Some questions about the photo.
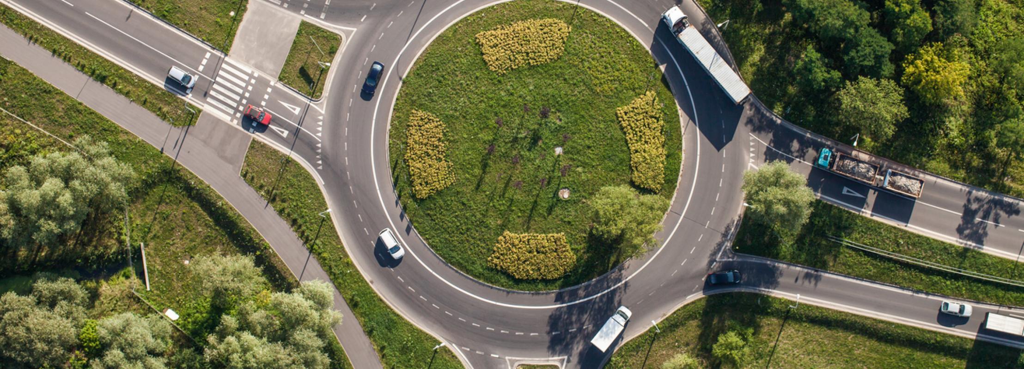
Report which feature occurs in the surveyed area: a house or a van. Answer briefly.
van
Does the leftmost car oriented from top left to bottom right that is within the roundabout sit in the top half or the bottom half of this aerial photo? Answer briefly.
bottom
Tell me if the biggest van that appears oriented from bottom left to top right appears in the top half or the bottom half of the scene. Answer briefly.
bottom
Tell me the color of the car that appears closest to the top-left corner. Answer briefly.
white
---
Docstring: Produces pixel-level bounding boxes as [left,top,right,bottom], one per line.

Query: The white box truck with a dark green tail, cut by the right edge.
[982,313,1024,337]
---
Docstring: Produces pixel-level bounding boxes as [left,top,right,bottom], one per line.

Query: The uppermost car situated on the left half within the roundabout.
[362,60,384,95]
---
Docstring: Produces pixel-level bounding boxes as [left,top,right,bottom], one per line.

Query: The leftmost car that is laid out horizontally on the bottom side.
[707,270,741,285]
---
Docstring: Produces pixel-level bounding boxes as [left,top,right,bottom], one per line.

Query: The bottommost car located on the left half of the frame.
[379,228,404,259]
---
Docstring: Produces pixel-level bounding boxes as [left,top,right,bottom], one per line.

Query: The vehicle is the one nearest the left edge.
[166,65,197,88]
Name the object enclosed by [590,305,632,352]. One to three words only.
van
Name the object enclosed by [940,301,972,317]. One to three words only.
car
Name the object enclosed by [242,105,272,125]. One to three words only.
car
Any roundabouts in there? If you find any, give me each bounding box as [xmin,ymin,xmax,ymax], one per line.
[327,0,745,355]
